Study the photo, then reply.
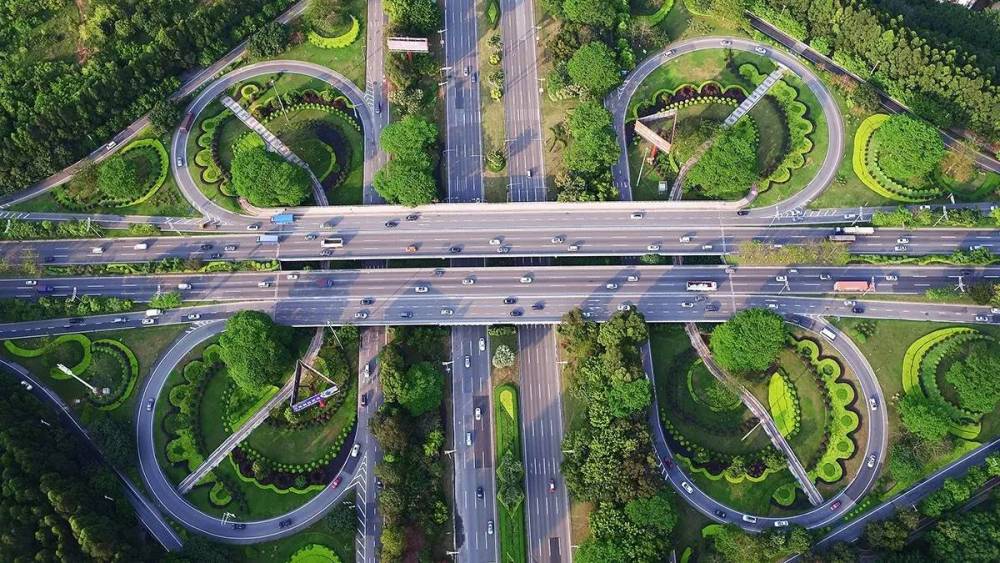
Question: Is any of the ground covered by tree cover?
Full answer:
Yes, the picture does contain tree cover.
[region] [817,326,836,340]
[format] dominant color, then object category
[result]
white vehicle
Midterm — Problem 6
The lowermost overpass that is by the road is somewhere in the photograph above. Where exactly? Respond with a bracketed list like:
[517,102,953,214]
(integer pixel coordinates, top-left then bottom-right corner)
[273,266,738,326]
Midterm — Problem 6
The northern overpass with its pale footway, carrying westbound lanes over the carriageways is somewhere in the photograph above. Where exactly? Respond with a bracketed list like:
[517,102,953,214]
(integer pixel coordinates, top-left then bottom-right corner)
[277,198,730,261]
